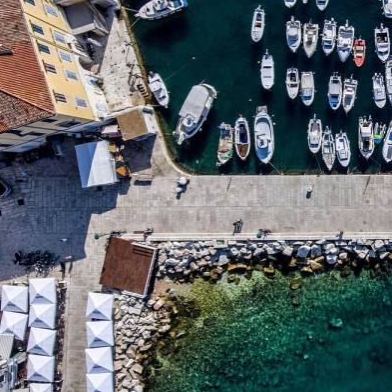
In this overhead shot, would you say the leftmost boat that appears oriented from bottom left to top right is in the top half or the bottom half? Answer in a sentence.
Seen from above, the leftmost boat that appears oriented from bottom left to top right lies in the top half of the view.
